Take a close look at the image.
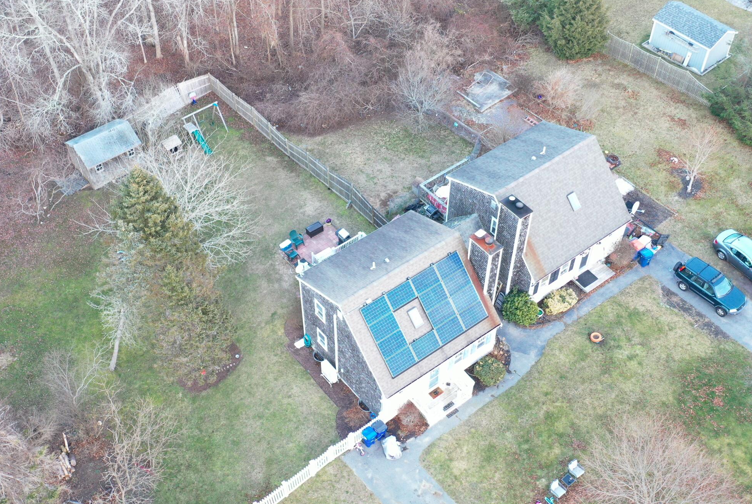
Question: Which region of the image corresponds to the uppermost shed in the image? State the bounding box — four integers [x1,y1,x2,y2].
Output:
[642,1,737,76]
